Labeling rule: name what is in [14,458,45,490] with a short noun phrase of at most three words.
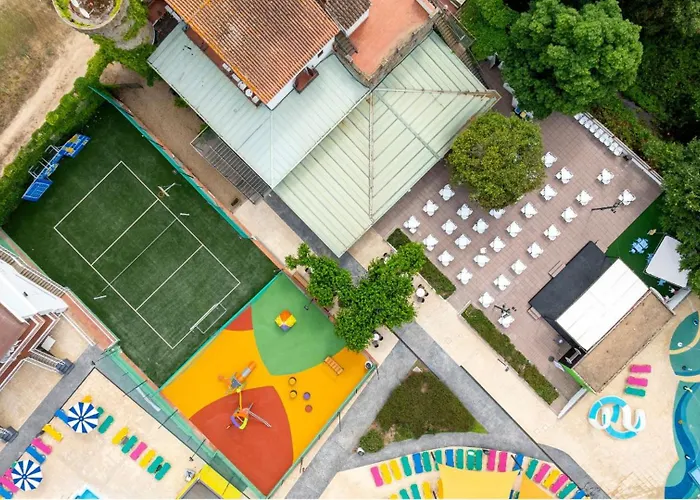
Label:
umbrella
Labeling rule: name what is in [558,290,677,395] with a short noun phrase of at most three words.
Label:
shed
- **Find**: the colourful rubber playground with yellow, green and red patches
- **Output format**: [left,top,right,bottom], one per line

[166,276,375,495]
